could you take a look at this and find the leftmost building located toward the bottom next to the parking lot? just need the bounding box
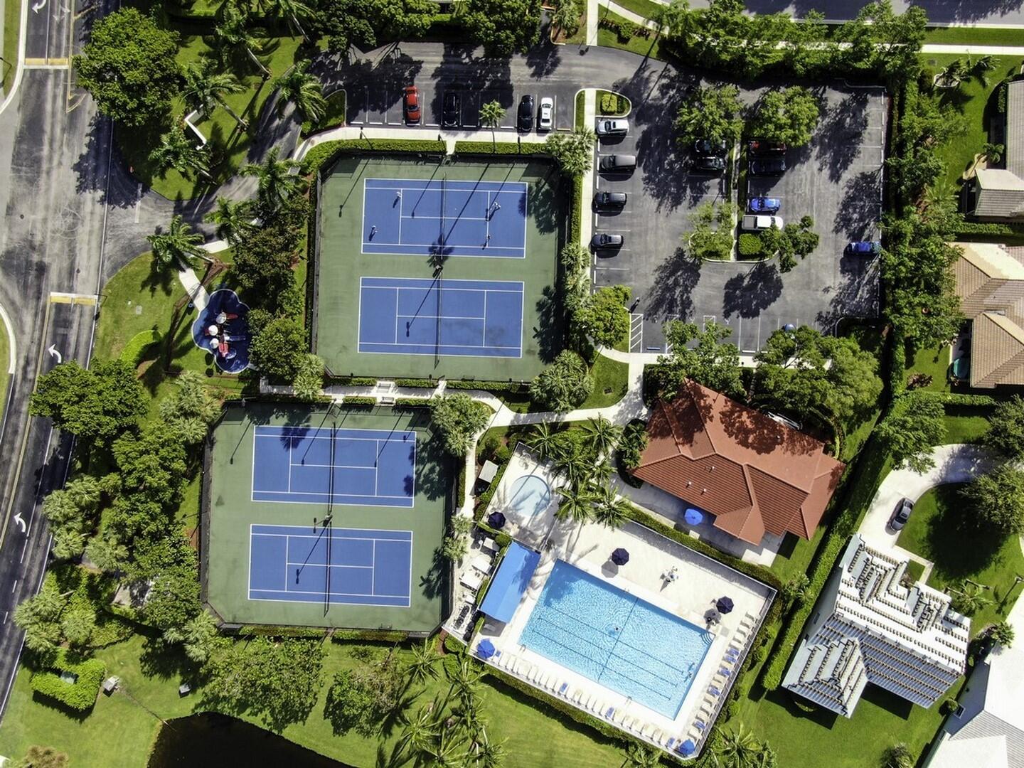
[632,378,846,546]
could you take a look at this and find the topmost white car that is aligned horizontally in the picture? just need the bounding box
[596,118,630,135]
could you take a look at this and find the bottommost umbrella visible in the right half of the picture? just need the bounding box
[678,737,695,755]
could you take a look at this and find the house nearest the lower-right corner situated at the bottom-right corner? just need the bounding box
[917,657,1024,768]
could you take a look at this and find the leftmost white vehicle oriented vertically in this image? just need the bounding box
[538,97,553,131]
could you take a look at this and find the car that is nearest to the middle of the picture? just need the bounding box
[591,234,624,249]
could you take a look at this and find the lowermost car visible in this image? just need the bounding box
[889,497,914,530]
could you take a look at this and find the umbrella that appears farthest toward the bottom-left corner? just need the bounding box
[476,638,495,657]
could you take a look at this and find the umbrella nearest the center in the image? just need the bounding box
[487,510,506,529]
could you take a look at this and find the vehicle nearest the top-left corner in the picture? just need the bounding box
[405,89,419,123]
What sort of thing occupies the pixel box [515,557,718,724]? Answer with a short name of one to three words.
swimming pool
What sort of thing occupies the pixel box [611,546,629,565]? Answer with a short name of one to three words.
umbrella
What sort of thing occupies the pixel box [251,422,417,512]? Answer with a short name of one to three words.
tennis court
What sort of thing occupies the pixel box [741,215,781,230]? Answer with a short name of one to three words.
vehicle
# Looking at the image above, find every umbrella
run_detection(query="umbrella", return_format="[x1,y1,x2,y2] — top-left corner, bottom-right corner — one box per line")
[714,595,733,613]
[678,737,695,755]
[487,510,506,529]
[683,506,703,526]
[611,546,629,565]
[476,638,495,657]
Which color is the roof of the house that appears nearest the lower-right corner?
white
